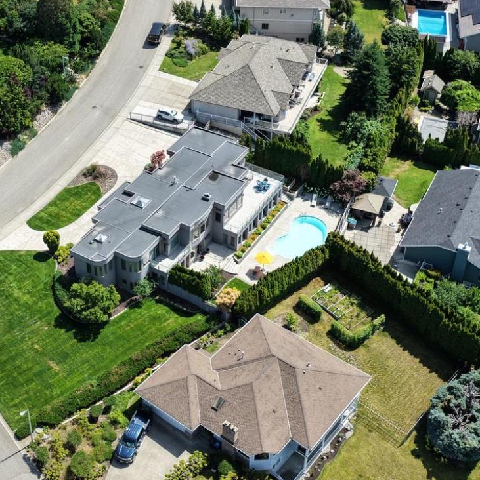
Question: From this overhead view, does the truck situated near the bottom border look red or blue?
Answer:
blue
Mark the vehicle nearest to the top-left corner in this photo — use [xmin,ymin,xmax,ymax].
[148,25,165,43]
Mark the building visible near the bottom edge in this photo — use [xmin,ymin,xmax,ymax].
[133,312,372,480]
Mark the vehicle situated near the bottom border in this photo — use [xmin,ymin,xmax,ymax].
[114,407,153,465]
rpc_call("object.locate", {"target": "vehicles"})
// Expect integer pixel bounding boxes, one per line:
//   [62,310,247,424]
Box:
[152,103,187,126]
[114,407,153,465]
[148,25,165,43]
